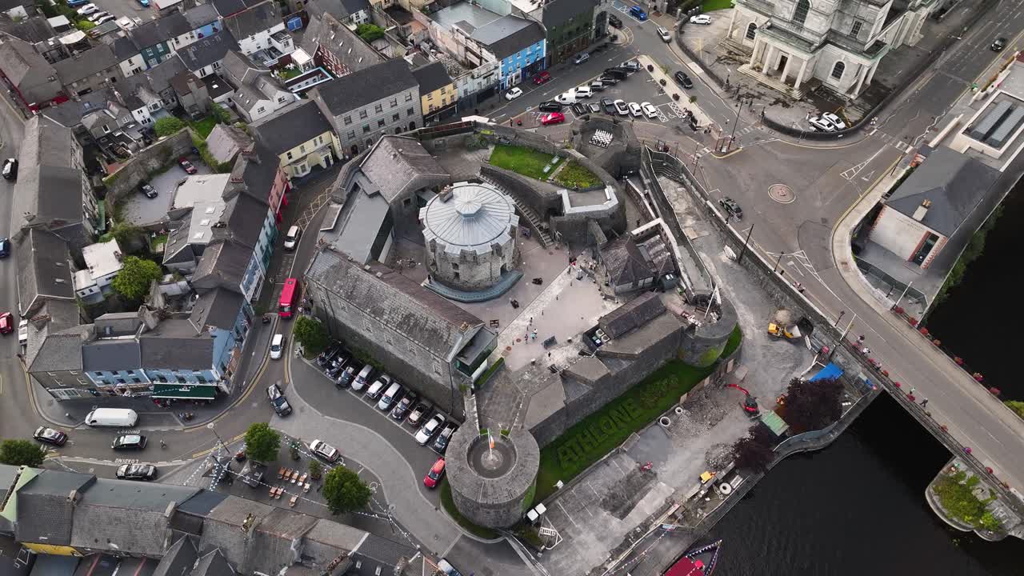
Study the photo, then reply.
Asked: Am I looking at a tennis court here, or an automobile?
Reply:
automobile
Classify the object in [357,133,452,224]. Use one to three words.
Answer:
building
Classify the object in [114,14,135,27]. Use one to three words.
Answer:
vehicle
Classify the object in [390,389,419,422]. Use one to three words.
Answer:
car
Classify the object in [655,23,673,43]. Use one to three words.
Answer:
car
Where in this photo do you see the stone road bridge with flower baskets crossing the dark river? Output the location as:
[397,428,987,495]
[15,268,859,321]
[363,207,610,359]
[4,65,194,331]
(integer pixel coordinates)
[869,311,1024,556]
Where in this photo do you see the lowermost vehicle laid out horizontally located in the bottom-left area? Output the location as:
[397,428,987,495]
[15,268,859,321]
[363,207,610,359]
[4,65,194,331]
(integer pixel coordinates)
[115,461,159,481]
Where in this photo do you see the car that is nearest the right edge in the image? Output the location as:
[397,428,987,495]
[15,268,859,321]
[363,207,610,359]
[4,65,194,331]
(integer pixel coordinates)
[990,37,1009,53]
